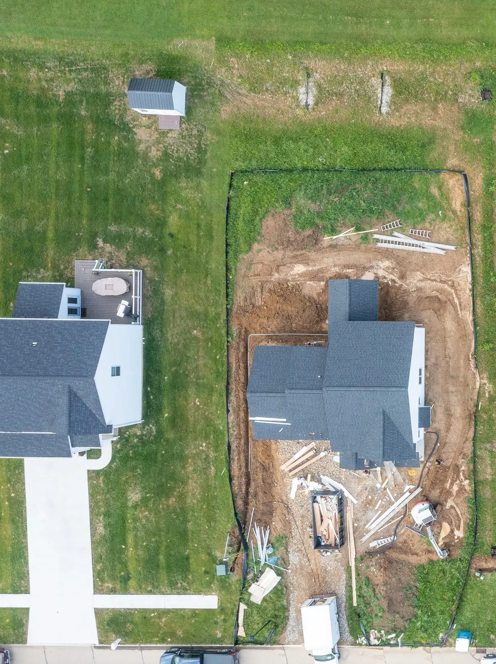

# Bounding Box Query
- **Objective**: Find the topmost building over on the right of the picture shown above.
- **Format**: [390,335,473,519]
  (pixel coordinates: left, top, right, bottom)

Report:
[247,279,432,471]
